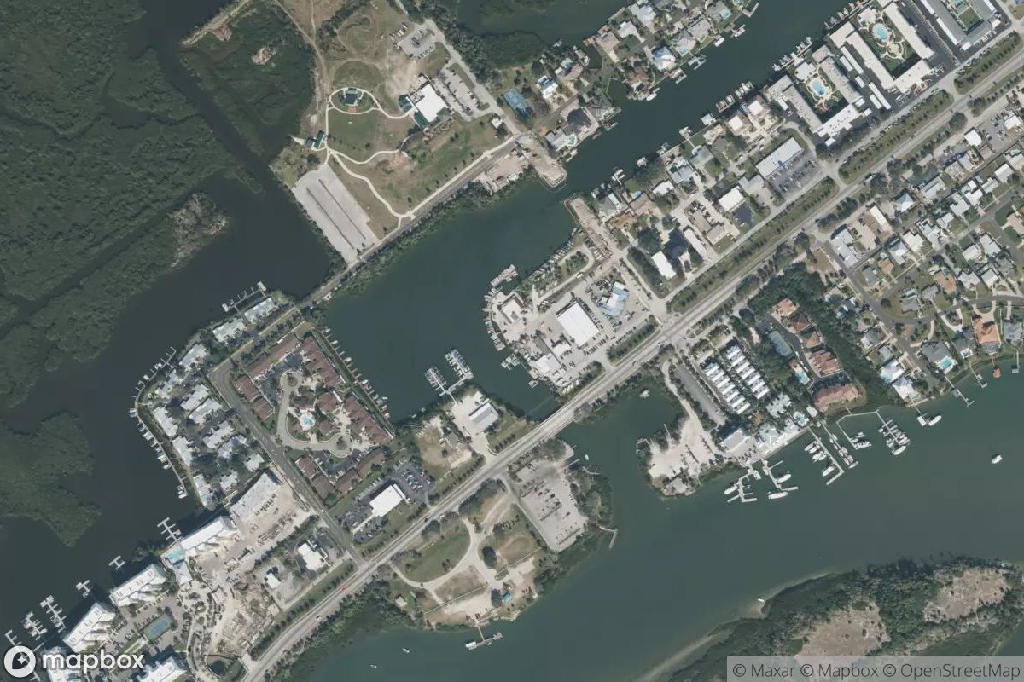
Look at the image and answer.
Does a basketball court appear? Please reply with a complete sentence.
No, the frame has no basketball court in it.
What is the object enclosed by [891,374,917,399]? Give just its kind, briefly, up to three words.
house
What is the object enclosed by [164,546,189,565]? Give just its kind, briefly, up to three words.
swimming pool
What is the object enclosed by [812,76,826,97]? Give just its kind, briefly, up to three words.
swimming pool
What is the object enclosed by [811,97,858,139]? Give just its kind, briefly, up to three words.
building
